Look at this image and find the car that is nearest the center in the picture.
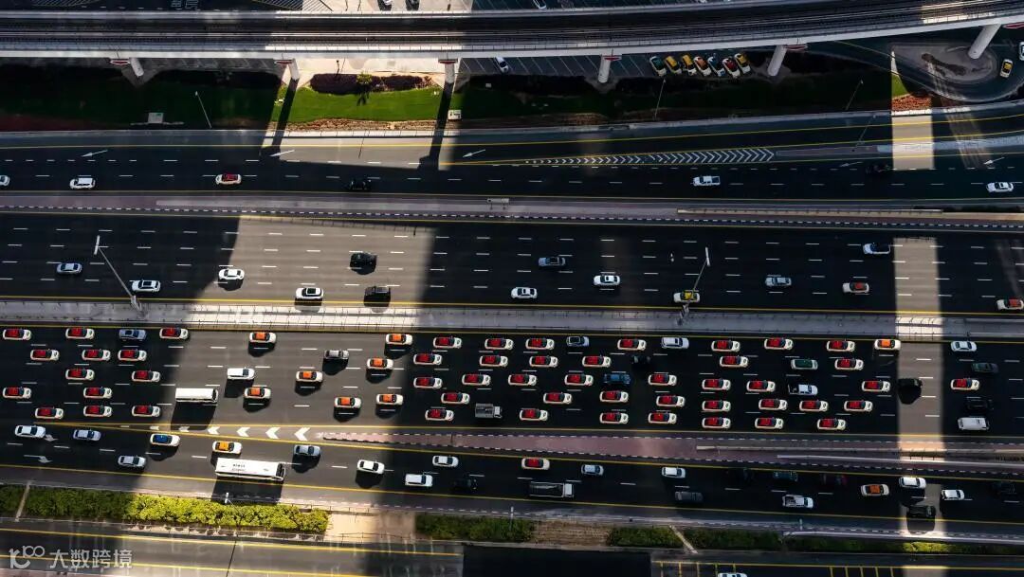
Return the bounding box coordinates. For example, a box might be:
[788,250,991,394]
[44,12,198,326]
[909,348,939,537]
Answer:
[511,287,537,299]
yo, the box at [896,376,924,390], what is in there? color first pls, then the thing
black car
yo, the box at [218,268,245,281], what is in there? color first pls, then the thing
white vehicle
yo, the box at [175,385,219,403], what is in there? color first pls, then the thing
white vehicle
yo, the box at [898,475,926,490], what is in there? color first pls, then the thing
white car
